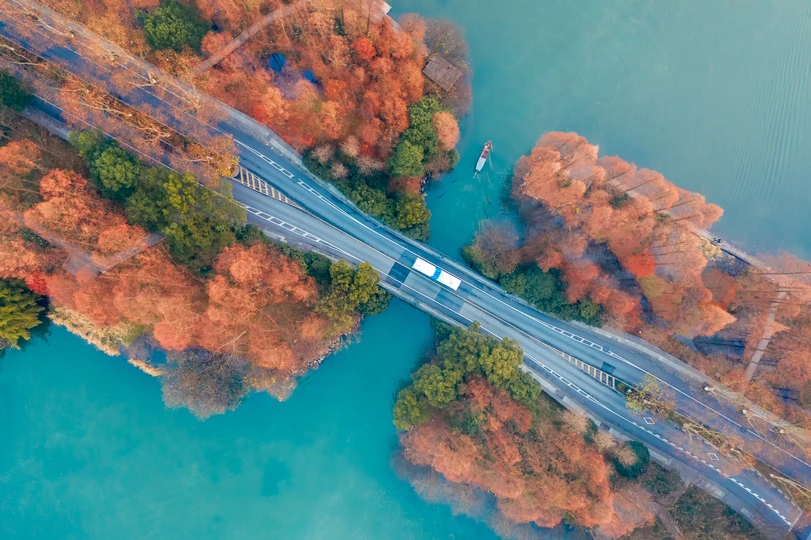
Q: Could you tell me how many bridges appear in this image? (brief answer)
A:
one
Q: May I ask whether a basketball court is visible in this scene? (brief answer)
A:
No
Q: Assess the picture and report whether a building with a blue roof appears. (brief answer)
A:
No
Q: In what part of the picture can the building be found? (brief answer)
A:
top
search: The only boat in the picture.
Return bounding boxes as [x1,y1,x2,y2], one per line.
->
[473,140,491,179]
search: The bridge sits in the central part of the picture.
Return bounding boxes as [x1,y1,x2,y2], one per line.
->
[366,228,497,329]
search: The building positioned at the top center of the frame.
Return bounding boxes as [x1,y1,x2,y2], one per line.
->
[424,54,462,95]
